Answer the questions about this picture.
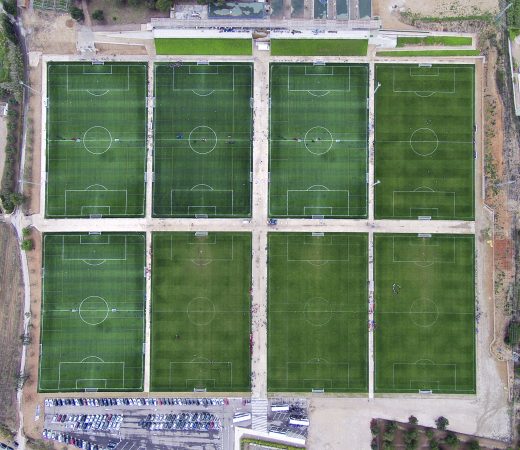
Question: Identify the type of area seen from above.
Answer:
sports ground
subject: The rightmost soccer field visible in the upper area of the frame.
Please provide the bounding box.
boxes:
[375,63,475,219]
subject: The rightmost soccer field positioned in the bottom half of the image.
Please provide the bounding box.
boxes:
[373,233,476,394]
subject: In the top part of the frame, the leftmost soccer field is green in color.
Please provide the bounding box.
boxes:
[45,61,148,218]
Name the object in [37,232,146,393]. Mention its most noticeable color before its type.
green soccer field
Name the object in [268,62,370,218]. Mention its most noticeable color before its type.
green soccer field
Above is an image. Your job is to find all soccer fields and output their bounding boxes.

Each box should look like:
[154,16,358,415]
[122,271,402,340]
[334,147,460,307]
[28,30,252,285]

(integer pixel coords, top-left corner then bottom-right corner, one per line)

[267,232,369,393]
[268,62,370,218]
[37,232,146,393]
[150,232,252,392]
[152,61,254,218]
[375,63,475,219]
[373,233,476,394]
[45,61,148,218]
